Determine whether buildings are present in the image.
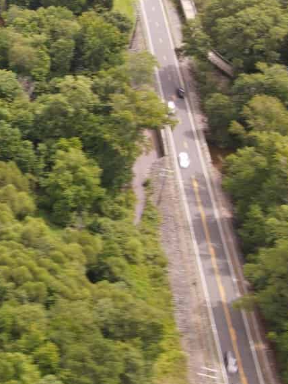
No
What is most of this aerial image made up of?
trees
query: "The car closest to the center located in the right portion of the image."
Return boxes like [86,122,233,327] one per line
[178,150,190,166]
